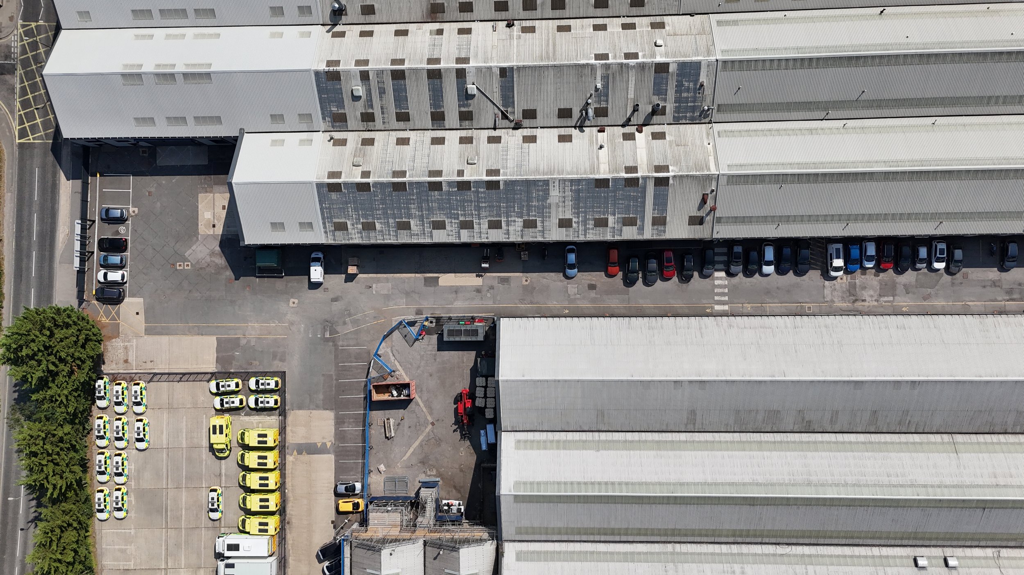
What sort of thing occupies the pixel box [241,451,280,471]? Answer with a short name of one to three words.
vehicle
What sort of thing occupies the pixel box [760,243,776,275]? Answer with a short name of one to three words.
car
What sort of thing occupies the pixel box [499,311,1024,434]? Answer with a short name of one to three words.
warehouse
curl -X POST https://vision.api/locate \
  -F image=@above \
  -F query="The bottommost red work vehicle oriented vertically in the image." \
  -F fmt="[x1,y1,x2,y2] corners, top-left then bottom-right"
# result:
[455,390,475,440]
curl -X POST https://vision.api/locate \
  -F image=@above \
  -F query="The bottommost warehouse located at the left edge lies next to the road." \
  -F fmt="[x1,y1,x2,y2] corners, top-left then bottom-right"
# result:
[42,22,323,145]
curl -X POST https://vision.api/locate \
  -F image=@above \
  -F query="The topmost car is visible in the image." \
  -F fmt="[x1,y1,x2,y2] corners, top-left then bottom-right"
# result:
[101,207,128,221]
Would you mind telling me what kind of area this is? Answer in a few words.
industrial area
